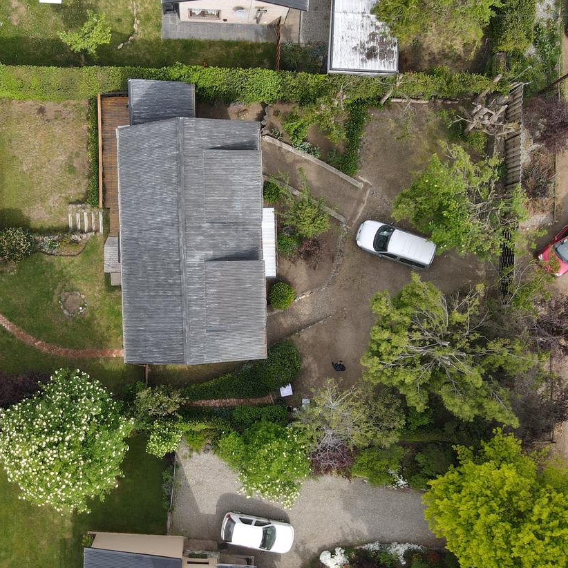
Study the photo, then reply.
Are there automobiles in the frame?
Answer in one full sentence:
Yes, I can see an automobile in this picture.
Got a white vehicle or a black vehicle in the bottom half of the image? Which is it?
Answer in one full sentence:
You can see a white vehicle in the bottom half of the image.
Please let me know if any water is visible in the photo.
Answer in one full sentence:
No, there's no water in this view.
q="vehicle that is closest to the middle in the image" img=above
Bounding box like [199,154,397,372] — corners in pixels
[353,220,438,270]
